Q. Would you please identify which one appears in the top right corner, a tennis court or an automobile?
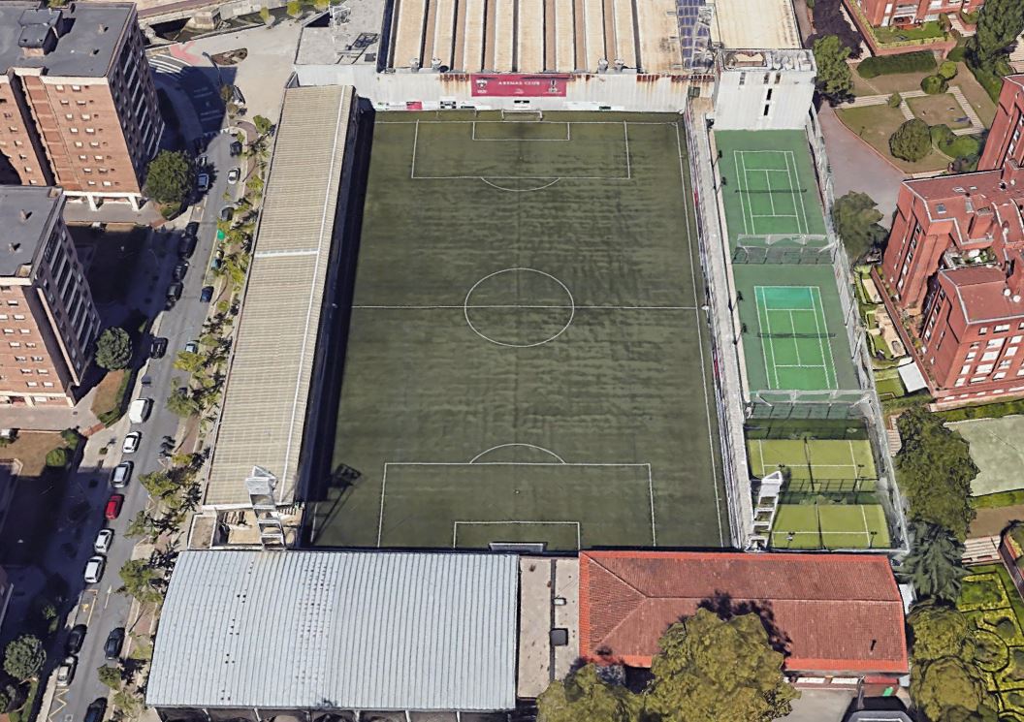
tennis court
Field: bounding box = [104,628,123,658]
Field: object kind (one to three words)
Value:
car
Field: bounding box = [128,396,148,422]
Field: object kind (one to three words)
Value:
vehicle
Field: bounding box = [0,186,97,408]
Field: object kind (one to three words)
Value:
building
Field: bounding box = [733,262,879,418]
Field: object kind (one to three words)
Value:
tennis court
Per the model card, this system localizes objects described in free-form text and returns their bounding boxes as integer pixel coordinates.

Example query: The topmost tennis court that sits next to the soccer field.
[715,129,842,262]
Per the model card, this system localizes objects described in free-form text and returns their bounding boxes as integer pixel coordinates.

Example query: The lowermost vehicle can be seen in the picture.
[85,697,105,722]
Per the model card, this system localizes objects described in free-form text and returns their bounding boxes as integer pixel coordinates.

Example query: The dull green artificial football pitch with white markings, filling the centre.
[297,109,731,579]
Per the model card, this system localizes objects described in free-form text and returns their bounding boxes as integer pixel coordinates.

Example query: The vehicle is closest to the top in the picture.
[230,82,244,103]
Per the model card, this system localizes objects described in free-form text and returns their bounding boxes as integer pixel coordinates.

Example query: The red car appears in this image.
[104,493,123,517]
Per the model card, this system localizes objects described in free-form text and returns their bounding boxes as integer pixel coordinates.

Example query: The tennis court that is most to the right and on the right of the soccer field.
[959,413,1024,494]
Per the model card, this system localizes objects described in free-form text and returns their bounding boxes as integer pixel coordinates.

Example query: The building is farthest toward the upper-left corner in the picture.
[0,0,159,211]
